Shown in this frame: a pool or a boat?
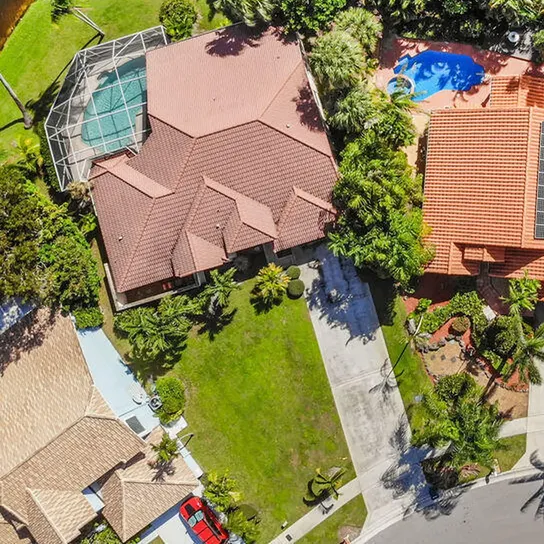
pool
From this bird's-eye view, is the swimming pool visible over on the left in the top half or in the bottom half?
top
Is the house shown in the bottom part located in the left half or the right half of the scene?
left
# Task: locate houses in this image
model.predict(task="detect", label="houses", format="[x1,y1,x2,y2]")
[87,9,338,313]
[423,75,544,303]
[0,309,204,544]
